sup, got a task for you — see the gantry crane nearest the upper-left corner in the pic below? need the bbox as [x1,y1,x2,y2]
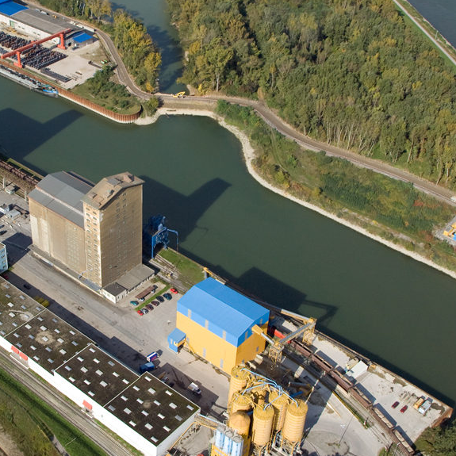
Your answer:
[0,28,67,69]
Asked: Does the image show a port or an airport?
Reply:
port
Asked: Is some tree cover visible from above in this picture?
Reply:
Yes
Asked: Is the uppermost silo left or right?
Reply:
left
